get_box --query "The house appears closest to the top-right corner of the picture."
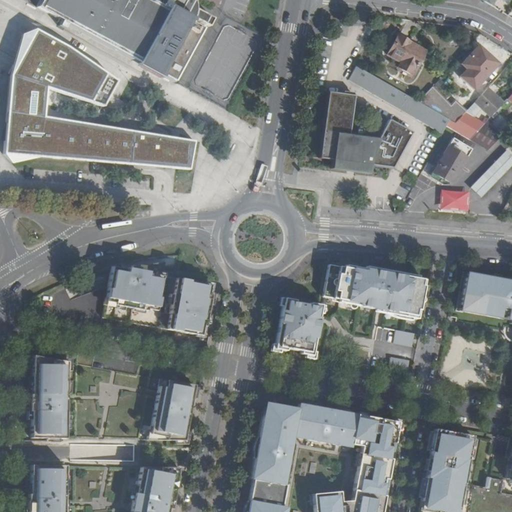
[459,45,503,94]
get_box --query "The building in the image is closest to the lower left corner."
[28,462,70,512]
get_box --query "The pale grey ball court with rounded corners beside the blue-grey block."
[194,24,255,101]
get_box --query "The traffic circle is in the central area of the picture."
[218,198,301,280]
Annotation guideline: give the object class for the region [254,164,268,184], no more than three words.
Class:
vehicle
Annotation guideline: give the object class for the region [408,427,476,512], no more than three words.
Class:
building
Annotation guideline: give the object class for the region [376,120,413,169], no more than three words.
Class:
building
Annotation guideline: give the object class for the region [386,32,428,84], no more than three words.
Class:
house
